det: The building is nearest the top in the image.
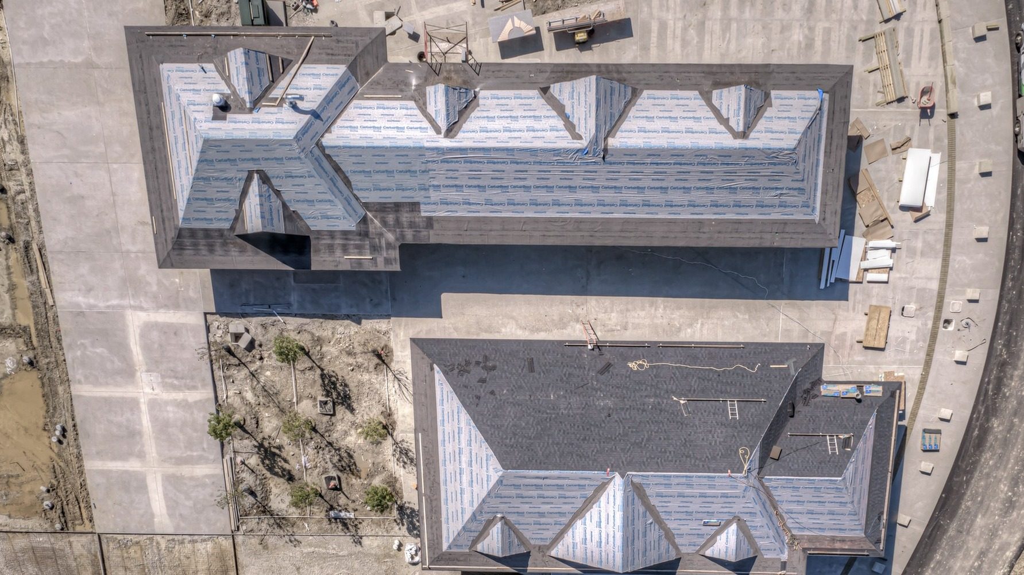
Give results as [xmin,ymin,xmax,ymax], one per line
[125,26,853,270]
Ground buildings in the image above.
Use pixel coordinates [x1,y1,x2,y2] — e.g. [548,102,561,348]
[411,338,901,575]
[125,26,853,270]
